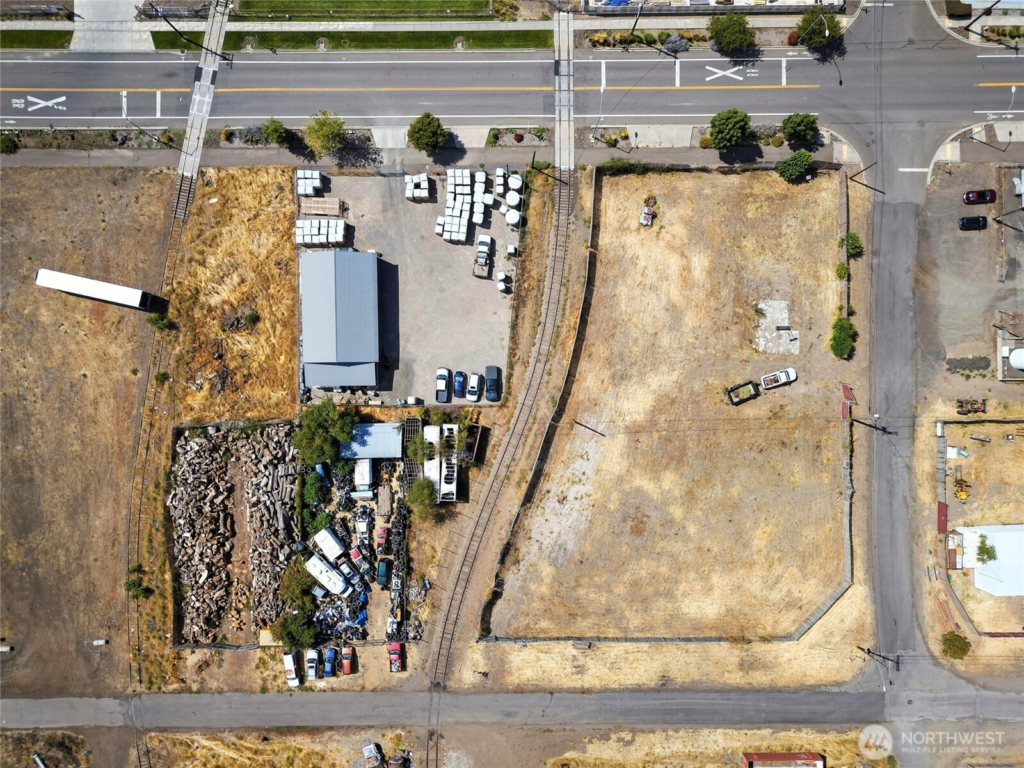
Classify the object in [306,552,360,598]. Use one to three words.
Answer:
camper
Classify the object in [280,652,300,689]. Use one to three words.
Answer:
vehicle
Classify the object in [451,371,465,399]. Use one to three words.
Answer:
car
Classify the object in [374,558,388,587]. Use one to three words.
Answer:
car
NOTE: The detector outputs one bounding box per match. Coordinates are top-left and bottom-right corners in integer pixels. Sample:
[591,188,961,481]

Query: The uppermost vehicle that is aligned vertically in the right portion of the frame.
[640,191,657,222]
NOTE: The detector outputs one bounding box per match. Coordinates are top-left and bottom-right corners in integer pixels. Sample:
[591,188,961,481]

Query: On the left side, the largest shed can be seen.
[300,248,381,362]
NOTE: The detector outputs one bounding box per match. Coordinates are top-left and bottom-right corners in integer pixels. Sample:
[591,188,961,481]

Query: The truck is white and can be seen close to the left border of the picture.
[35,268,164,312]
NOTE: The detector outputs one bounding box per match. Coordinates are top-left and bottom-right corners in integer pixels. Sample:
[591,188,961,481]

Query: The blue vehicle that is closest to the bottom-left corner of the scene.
[321,649,336,680]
